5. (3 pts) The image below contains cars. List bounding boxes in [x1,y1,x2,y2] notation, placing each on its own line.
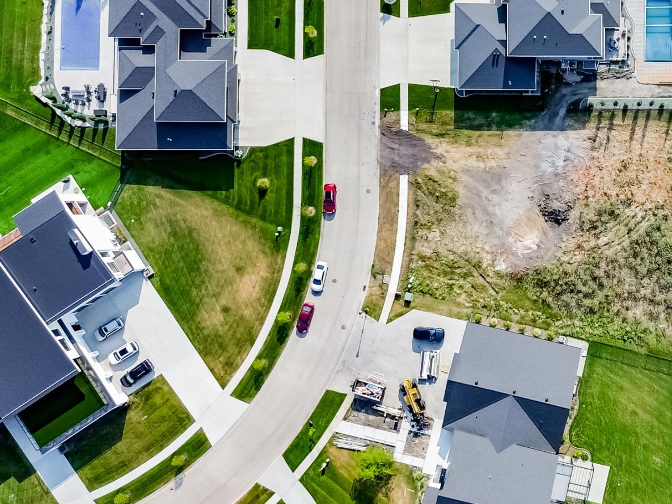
[311,261,329,292]
[110,341,139,363]
[324,183,338,212]
[96,317,126,339]
[413,328,445,343]
[123,361,154,384]
[297,302,316,332]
